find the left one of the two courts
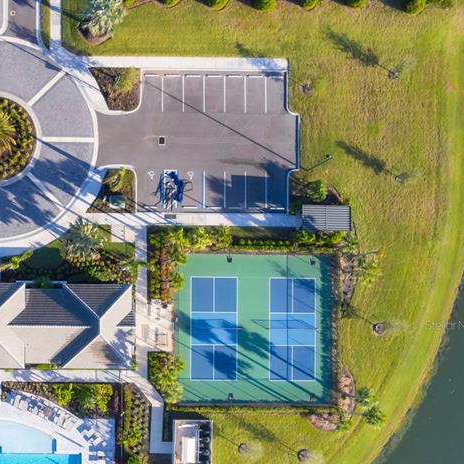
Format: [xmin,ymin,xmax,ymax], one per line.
[177,254,254,405]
